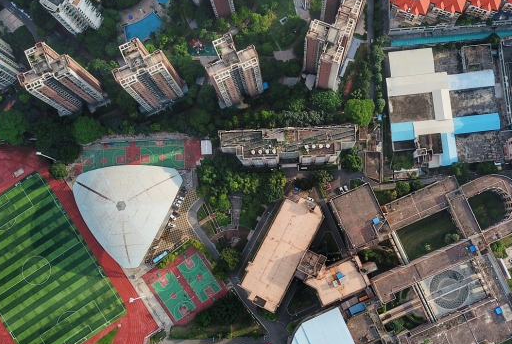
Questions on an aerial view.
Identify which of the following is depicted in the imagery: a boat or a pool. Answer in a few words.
pool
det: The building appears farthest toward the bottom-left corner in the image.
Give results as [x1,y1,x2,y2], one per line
[73,164,185,268]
